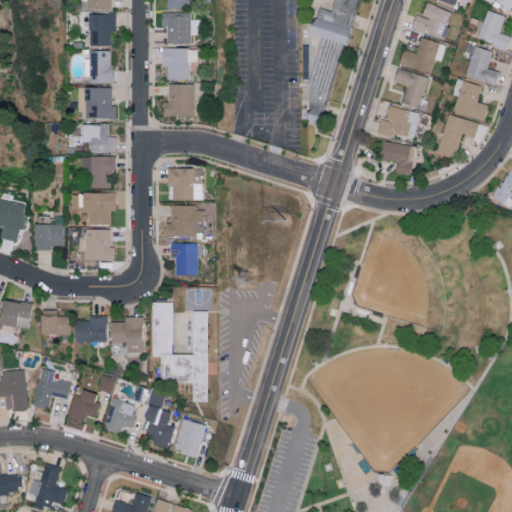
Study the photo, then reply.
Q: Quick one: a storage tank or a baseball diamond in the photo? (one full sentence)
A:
This aerial view contains a baseball diamond.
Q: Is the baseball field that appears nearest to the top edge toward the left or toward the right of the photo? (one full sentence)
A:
The baseball field that appears nearest to the top edge sits on the right side.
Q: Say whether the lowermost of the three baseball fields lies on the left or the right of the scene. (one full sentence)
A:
It is on the right.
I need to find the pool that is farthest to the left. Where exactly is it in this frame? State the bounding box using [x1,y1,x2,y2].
[23,354,40,368]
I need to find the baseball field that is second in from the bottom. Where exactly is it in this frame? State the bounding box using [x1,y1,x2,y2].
[310,350,468,472]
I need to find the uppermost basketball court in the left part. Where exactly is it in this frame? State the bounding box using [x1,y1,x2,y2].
[186,288,212,310]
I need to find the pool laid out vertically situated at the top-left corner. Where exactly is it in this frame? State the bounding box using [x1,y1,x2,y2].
[72,54,84,79]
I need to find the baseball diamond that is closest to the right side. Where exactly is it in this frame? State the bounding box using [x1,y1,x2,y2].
[422,446,512,512]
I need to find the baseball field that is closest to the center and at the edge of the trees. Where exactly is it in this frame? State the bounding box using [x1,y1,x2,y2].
[354,223,430,324]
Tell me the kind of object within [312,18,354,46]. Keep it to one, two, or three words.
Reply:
building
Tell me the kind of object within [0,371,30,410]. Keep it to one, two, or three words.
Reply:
house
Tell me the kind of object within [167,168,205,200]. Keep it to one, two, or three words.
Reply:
house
